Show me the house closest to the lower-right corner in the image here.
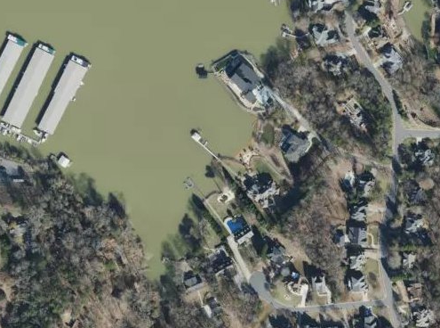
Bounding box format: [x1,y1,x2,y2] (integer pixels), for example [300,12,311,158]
[412,307,437,328]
